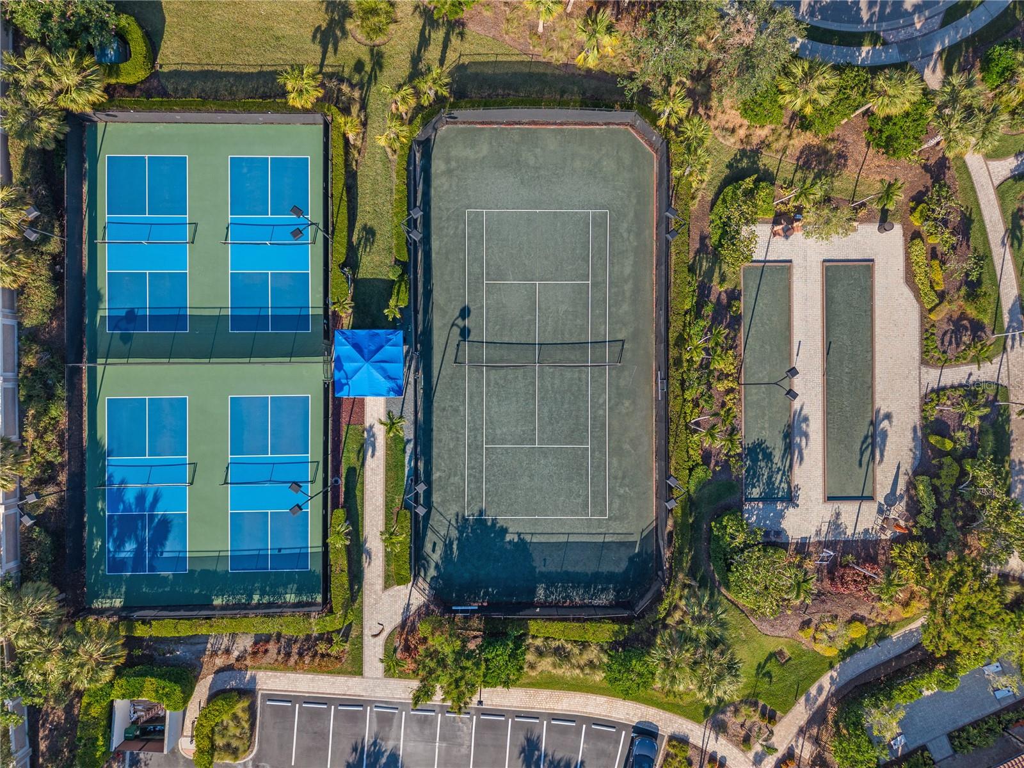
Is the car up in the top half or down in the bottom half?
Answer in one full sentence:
You can find the car in the bottom half.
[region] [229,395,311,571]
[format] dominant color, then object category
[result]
blue sports court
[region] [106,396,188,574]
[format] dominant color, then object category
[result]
blue sports court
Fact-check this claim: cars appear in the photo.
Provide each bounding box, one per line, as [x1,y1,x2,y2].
[629,731,658,768]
